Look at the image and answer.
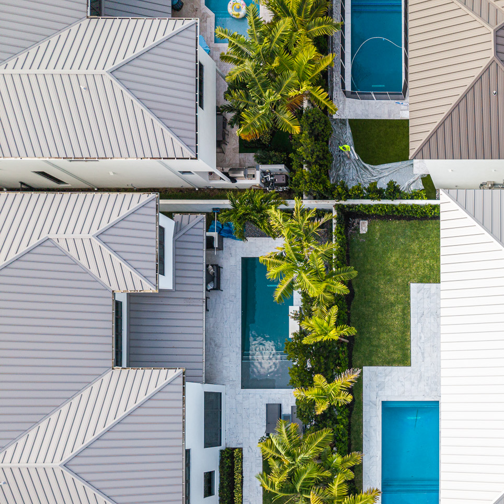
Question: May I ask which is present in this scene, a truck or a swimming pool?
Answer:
swimming pool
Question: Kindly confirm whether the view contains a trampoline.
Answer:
No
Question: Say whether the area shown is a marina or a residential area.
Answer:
residential area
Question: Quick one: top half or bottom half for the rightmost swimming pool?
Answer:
bottom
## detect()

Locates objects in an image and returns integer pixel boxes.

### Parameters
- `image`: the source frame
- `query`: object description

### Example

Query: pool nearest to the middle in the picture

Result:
[238,254,295,391]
